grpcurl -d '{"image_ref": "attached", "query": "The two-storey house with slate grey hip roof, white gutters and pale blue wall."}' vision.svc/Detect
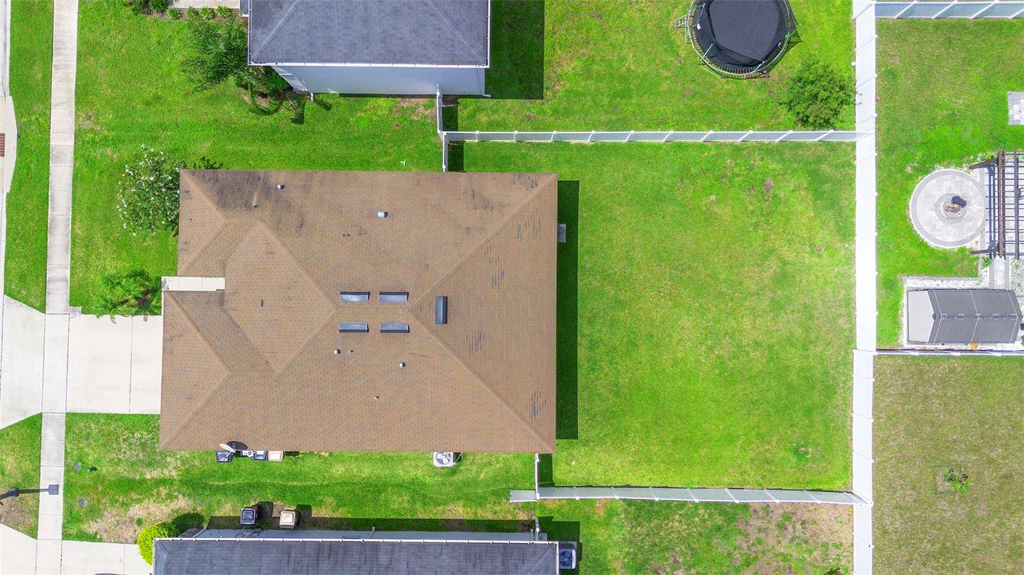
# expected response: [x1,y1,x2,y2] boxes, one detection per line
[238,0,492,102]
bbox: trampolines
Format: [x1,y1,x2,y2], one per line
[669,0,802,78]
